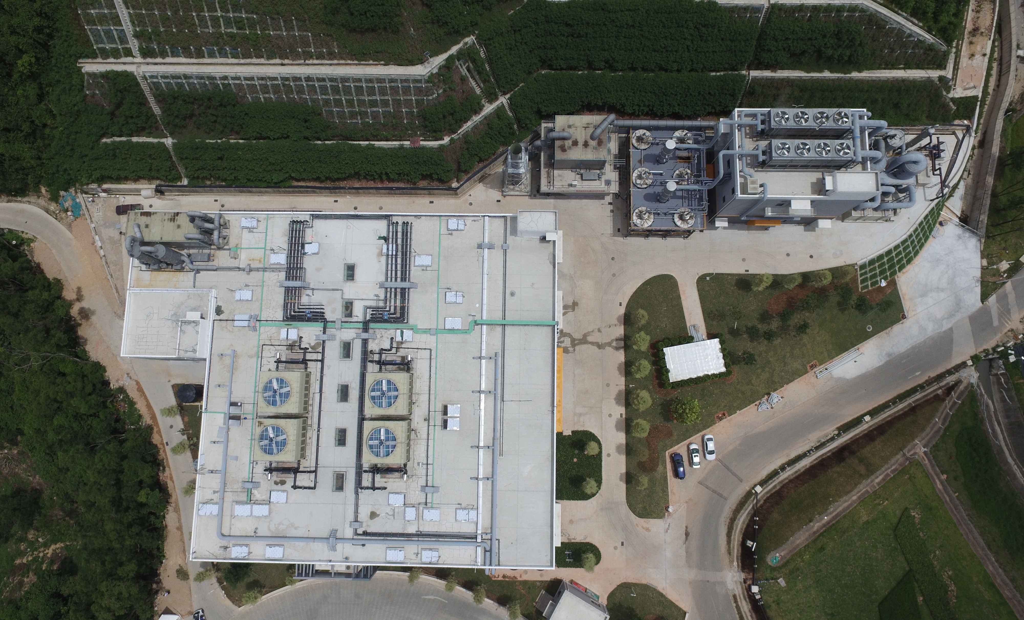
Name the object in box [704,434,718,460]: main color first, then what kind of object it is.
white car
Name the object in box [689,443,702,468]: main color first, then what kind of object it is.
white vehicle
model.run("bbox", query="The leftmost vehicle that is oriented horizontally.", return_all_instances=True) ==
[113,202,142,215]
